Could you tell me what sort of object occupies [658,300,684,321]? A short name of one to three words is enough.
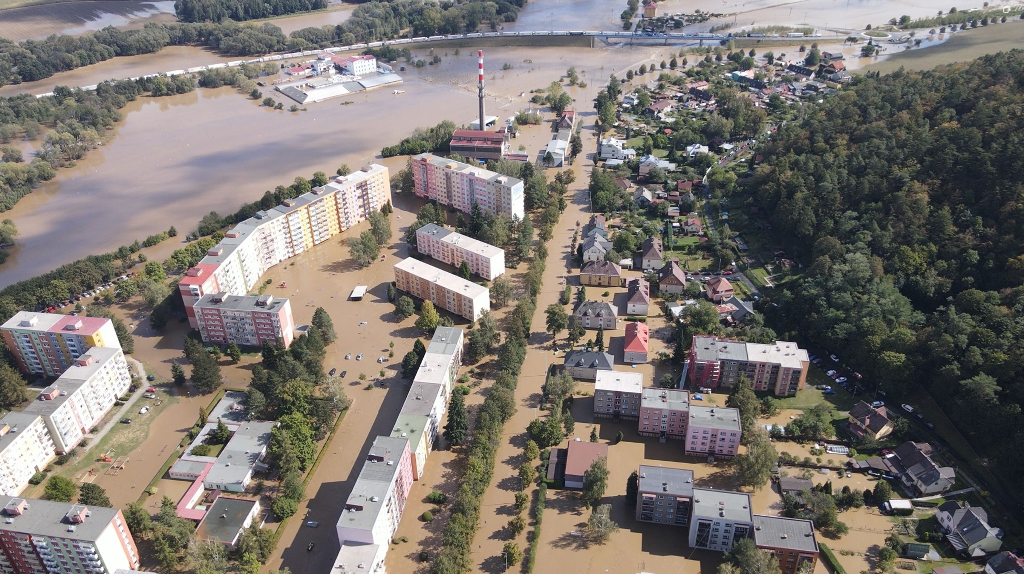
shed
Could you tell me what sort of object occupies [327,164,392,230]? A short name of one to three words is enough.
building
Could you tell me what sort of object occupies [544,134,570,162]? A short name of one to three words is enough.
barn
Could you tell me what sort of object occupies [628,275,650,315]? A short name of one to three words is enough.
house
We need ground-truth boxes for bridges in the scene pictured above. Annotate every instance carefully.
[594,34,726,49]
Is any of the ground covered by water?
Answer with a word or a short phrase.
Yes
